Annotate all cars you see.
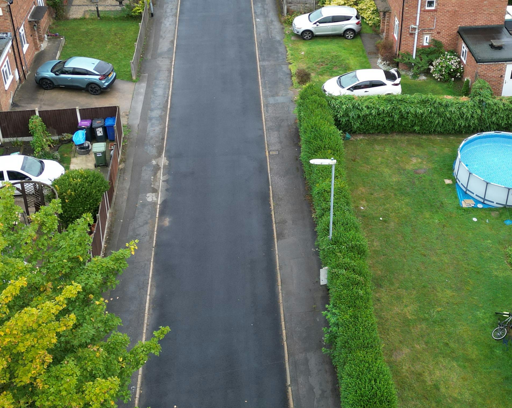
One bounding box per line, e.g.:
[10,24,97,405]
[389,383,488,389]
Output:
[320,64,405,97]
[288,4,363,39]
[0,152,64,195]
[35,52,120,93]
